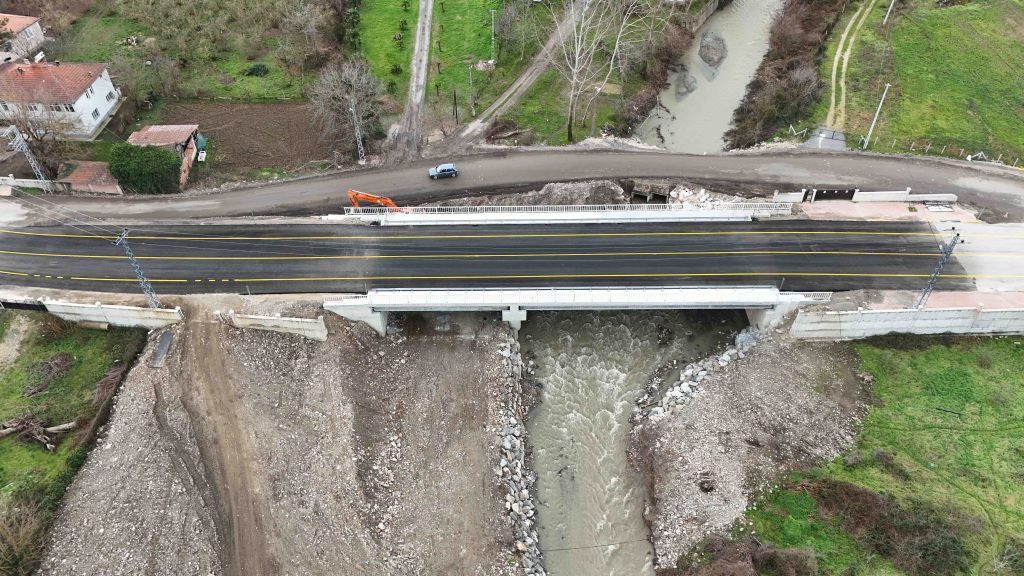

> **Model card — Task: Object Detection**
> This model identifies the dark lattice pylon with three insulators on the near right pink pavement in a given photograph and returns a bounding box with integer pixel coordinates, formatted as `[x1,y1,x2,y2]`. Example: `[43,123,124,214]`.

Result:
[913,226,971,314]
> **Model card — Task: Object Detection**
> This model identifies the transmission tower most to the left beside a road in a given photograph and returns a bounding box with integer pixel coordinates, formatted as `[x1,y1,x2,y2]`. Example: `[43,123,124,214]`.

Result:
[7,121,57,193]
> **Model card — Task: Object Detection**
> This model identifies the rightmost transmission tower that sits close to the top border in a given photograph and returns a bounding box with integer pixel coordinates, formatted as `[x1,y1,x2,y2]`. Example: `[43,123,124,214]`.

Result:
[486,8,498,63]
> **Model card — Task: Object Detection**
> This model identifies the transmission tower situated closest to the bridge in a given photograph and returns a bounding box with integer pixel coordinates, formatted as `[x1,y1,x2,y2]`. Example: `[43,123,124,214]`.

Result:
[350,96,367,163]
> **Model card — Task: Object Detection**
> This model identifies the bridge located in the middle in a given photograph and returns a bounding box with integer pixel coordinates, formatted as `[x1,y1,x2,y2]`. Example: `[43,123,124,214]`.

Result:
[320,201,835,337]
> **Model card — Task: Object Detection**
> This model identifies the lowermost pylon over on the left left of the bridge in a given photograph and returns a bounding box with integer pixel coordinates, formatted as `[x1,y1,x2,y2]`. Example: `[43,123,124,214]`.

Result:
[108,224,164,315]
